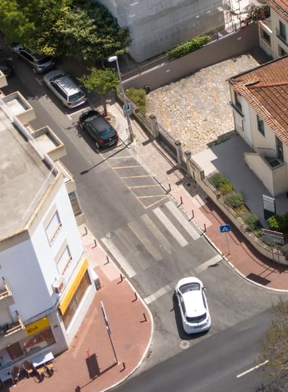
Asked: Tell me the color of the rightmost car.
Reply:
white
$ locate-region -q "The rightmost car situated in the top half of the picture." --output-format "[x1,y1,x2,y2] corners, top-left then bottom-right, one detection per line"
[75,106,118,146]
